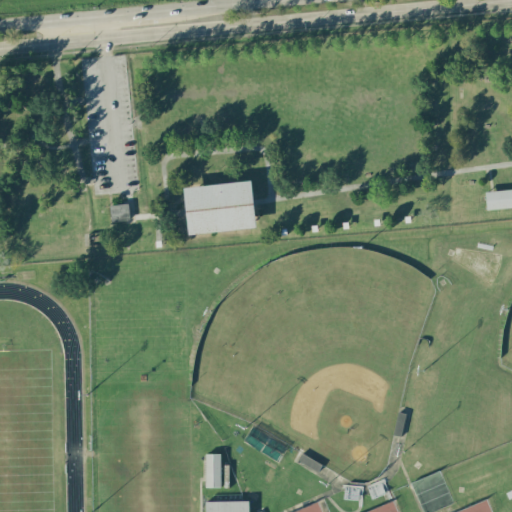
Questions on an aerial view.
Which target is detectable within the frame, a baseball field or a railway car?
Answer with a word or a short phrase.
baseball field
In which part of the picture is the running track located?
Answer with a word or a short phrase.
bottom left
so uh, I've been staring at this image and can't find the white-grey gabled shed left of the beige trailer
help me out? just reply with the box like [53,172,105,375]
[206,454,222,488]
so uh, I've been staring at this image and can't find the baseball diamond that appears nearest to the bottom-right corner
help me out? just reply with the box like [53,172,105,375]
[192,248,435,482]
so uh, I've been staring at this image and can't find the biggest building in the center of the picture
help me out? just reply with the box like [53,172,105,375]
[184,181,256,236]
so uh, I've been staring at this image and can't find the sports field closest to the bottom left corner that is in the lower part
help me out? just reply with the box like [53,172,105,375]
[0,348,56,512]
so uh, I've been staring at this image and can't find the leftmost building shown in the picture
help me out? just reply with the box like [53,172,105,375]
[111,204,130,223]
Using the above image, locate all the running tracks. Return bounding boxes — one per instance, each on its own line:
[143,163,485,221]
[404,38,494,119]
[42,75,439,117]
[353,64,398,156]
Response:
[0,281,88,512]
